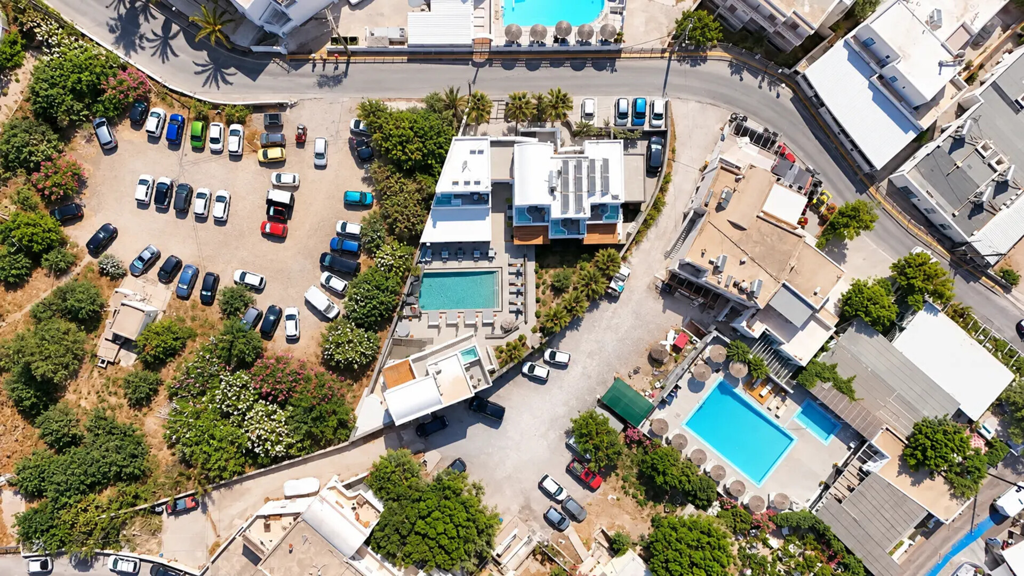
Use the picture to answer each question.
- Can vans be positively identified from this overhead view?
Yes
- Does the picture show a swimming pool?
Yes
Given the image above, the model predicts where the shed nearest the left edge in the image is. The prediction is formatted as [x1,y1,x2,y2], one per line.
[97,290,160,361]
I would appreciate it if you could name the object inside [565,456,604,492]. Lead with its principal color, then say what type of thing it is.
red truck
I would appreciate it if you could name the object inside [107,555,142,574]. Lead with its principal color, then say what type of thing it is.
white car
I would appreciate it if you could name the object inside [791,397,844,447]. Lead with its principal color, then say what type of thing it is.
blue swimming pool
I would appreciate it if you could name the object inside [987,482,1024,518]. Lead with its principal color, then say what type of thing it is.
white van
